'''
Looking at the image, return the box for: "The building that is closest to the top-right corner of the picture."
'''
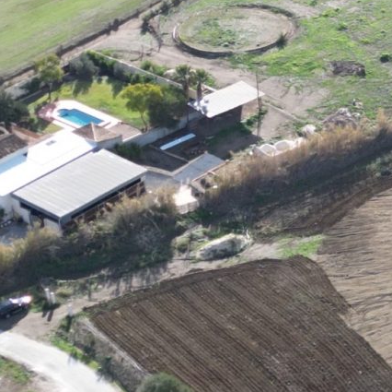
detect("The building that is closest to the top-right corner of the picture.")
[181,77,271,141]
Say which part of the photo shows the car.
bottom left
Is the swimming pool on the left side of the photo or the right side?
left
